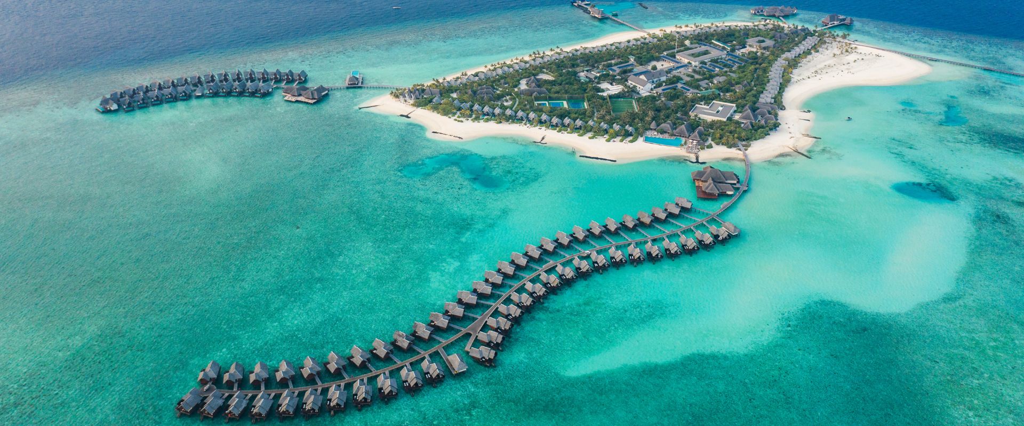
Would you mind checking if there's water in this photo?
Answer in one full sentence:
Yes, some water is visible.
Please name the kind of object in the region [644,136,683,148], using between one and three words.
swimming pool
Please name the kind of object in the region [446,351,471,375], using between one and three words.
building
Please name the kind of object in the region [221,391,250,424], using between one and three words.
house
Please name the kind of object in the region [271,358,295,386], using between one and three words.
house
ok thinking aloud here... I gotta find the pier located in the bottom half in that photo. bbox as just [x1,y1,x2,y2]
[199,142,751,398]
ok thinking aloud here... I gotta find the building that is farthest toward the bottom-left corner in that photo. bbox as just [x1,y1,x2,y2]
[172,388,203,419]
